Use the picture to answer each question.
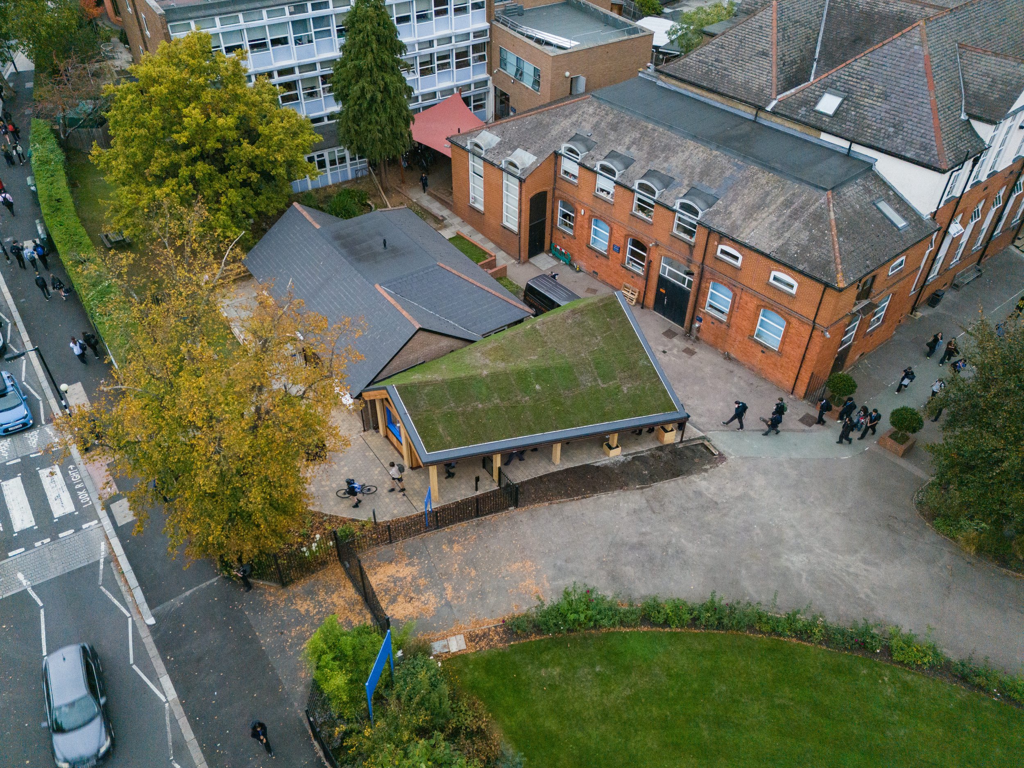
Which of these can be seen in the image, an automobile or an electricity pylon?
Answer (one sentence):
There is an automobile in the scene.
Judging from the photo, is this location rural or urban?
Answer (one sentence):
The land in this view is best described as urban.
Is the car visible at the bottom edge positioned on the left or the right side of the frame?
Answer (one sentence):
The car visible at the bottom edge sits on the left side.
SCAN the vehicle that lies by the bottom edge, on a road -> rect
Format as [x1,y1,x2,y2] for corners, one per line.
[38,634,117,768]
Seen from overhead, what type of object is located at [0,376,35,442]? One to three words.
car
